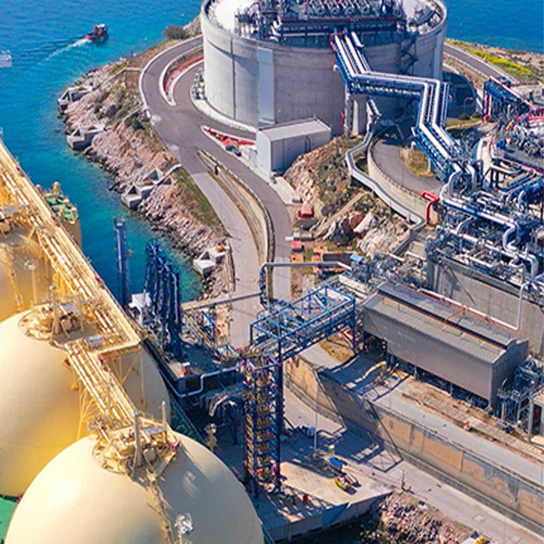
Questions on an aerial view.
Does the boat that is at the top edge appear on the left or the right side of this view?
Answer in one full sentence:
The boat that is at the top edge sits on the left side.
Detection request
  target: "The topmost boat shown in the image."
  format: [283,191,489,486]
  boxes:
[83,22,107,41]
